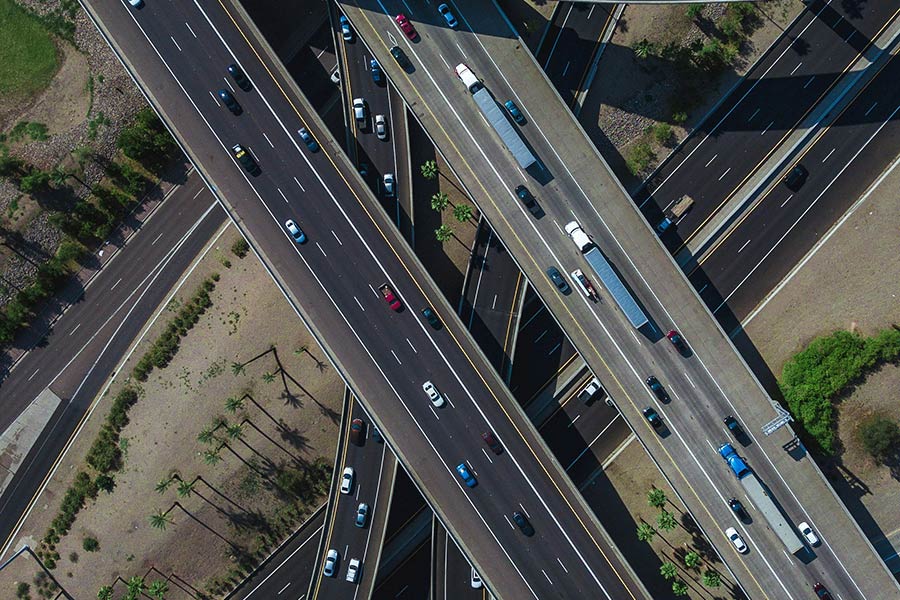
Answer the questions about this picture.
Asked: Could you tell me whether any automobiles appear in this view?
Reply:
Yes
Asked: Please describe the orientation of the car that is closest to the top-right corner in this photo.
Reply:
on a diagonal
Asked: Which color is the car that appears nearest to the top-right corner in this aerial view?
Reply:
black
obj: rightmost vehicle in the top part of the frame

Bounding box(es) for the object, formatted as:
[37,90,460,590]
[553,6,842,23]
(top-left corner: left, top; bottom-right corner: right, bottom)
[781,164,808,191]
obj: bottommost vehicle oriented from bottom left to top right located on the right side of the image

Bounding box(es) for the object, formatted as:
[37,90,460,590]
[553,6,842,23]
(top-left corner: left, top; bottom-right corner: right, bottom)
[577,379,601,404]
